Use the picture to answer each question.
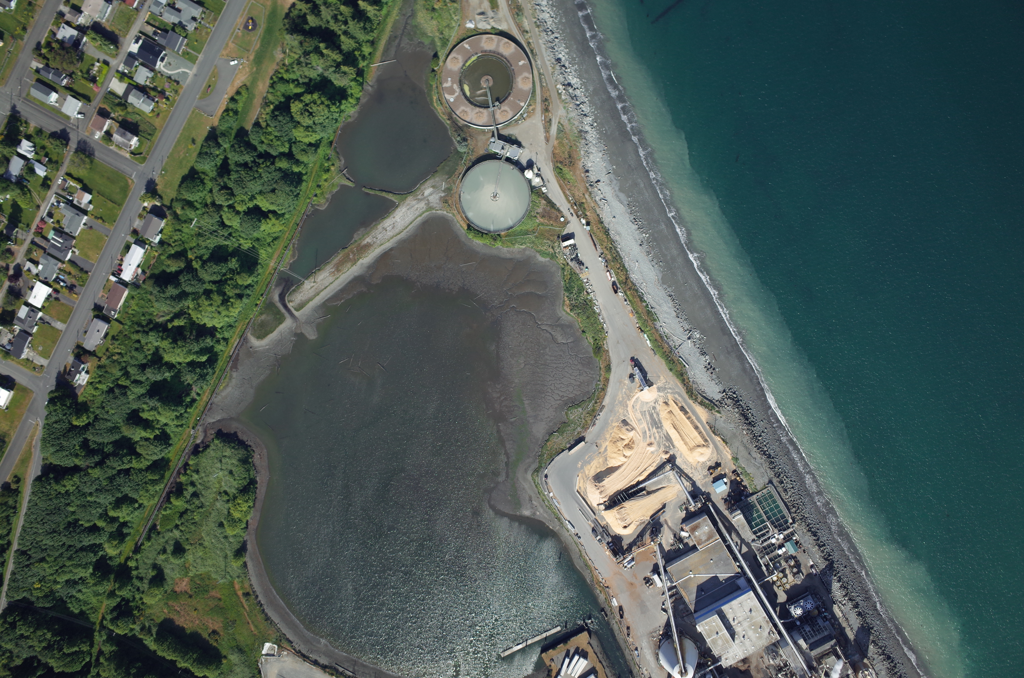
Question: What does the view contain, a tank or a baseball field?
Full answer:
The one in the frame is a tank.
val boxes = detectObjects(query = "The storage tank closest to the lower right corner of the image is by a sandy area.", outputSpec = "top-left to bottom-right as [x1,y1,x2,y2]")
[842,647,873,678]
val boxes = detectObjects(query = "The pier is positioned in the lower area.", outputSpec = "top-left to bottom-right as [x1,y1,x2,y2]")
[501,626,561,658]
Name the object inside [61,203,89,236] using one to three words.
house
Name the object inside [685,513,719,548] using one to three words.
building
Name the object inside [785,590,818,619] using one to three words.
cooling tower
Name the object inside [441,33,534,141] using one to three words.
storage tank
